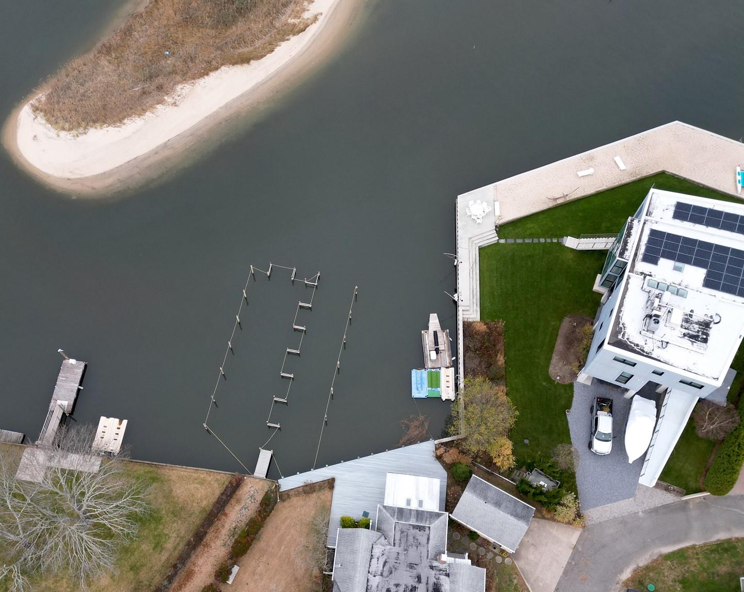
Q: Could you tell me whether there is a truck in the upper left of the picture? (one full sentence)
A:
No, looking in the upper left of the picture, there is no truck.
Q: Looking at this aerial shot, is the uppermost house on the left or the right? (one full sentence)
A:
The uppermost house sits on the right side.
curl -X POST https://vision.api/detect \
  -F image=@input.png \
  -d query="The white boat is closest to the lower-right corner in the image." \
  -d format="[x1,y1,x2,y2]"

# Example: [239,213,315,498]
[623,396,653,464]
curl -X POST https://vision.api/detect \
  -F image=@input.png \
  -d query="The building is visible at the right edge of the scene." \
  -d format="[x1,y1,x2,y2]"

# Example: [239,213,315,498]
[580,183,744,404]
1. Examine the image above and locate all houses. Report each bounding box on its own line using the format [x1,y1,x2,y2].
[324,472,486,592]
[580,183,744,404]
